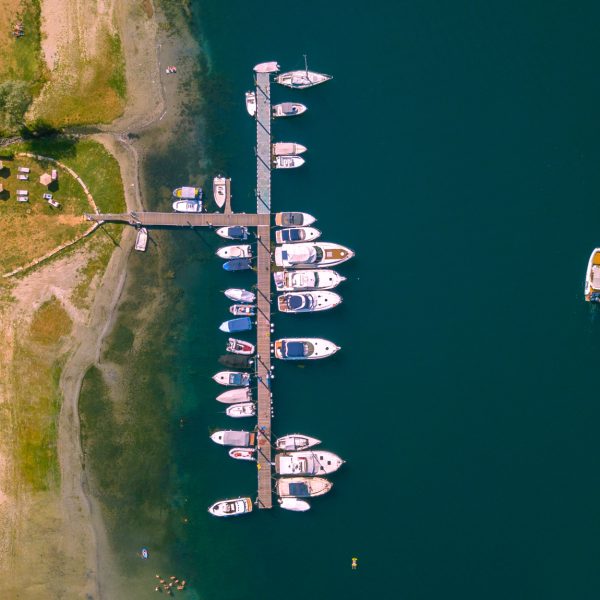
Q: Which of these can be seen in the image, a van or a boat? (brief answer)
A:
boat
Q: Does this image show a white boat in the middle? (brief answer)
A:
Yes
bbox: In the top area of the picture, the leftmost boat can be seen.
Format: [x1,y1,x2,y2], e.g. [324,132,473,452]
[134,228,146,251]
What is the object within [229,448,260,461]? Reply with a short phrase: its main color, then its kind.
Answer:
white boat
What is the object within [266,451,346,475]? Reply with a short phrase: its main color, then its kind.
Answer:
white boat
